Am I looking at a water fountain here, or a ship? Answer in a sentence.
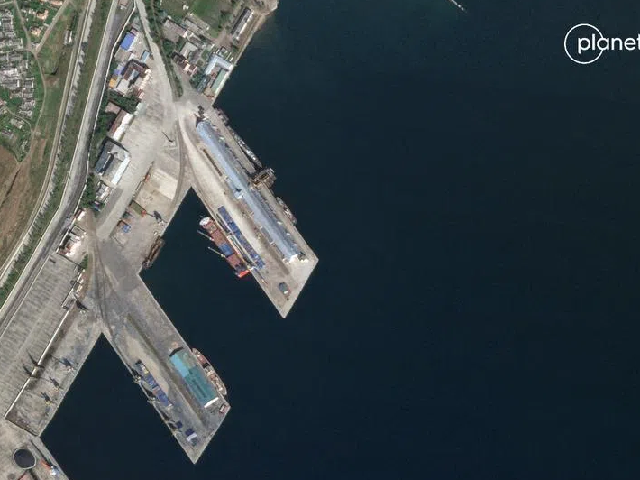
The one in the frame is a ship.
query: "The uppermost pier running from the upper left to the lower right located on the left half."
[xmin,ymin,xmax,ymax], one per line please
[190,105,319,317]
